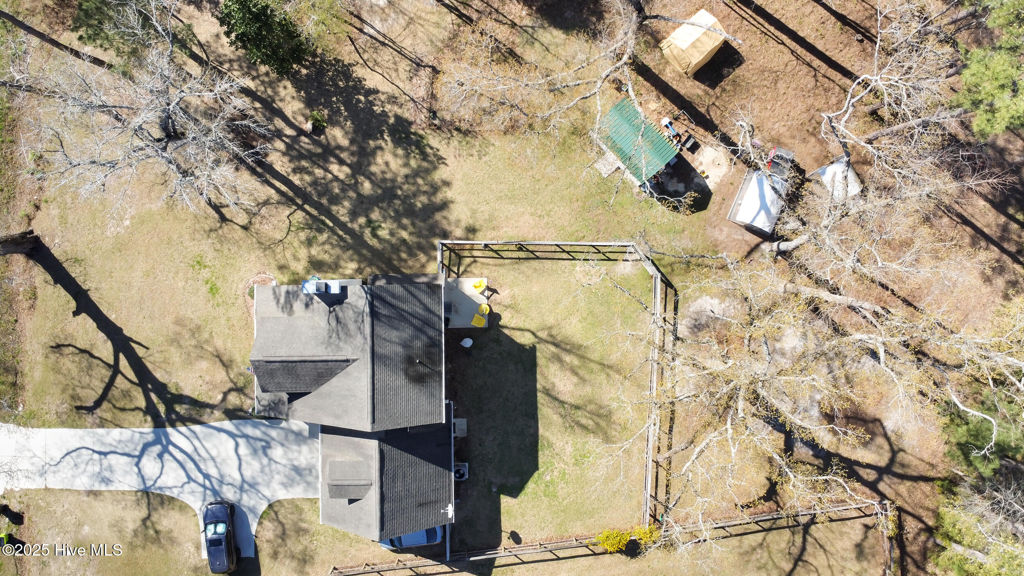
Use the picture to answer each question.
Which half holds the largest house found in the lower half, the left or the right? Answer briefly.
left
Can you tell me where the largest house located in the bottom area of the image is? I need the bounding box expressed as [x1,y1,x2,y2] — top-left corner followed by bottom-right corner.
[247,273,460,542]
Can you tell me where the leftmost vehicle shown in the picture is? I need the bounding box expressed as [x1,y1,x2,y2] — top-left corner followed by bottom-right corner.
[198,498,242,576]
